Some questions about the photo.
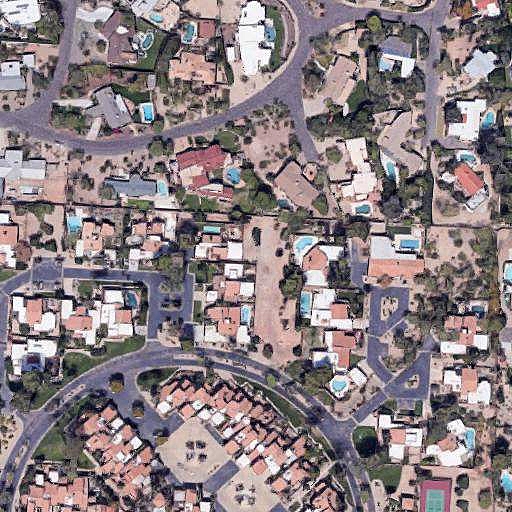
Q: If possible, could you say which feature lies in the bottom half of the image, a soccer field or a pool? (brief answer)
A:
pool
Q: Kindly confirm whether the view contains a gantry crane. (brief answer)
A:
No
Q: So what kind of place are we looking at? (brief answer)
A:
residential area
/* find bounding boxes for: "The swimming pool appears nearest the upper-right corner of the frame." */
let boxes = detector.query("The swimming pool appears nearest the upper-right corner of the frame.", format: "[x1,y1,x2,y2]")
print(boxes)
[480,108,496,128]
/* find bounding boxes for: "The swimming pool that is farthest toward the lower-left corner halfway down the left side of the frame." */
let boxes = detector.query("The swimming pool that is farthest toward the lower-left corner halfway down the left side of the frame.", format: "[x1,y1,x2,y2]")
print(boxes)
[124,290,139,311]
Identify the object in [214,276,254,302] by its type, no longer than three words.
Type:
house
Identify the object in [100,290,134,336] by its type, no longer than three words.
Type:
house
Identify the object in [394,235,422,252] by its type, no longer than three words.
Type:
swimming pool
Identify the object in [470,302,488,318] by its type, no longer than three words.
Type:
swimming pool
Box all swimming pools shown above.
[480,108,496,128]
[241,304,252,324]
[140,103,154,123]
[264,20,276,42]
[140,32,154,50]
[470,302,488,318]
[124,290,139,311]
[182,22,198,44]
[500,469,512,494]
[67,208,82,234]
[224,164,245,187]
[382,155,397,183]
[458,150,479,166]
[377,58,395,74]
[464,428,476,452]
[300,290,312,318]
[157,177,168,198]
[394,235,422,252]
[328,374,350,396]
[294,236,318,256]
[149,12,164,22]
[202,226,222,234]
